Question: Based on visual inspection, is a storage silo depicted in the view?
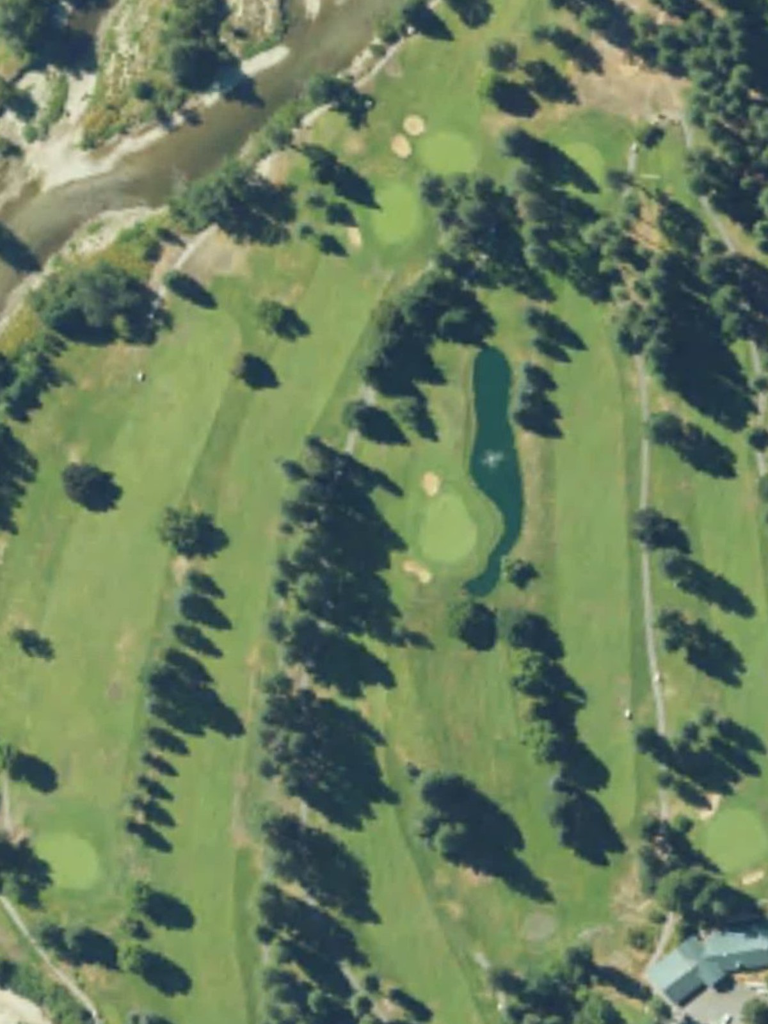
No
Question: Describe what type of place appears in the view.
golf course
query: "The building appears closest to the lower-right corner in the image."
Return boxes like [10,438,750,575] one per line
[650,926,768,1006]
